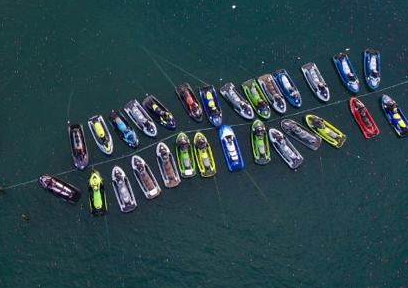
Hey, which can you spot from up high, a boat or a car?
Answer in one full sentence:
The image shows a boat.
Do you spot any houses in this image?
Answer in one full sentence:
No, I can't see a single house in this photo.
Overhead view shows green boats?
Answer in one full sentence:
Yes, there's a green boat here.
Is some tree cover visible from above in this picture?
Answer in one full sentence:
No, there is no tree cover in the image.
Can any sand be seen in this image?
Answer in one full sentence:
No, no sand is visible.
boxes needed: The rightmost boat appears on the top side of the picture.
[378,90,408,139]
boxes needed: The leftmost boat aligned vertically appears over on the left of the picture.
[68,123,87,170]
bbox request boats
[303,108,348,152]
[157,139,182,191]
[38,176,83,206]
[108,110,137,147]
[175,130,196,181]
[270,67,302,109]
[240,77,271,119]
[87,114,113,158]
[250,119,271,170]
[378,90,408,139]
[132,152,163,202]
[193,130,218,180]
[297,61,329,103]
[141,92,175,131]
[197,82,221,126]
[350,97,381,141]
[88,167,105,218]
[255,72,286,115]
[221,124,247,176]
[122,97,156,140]
[113,159,139,216]
[217,79,253,119]
[266,119,305,172]
[173,81,203,129]
[279,116,323,154]
[364,48,382,92]
[68,123,87,170]
[329,51,359,94]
